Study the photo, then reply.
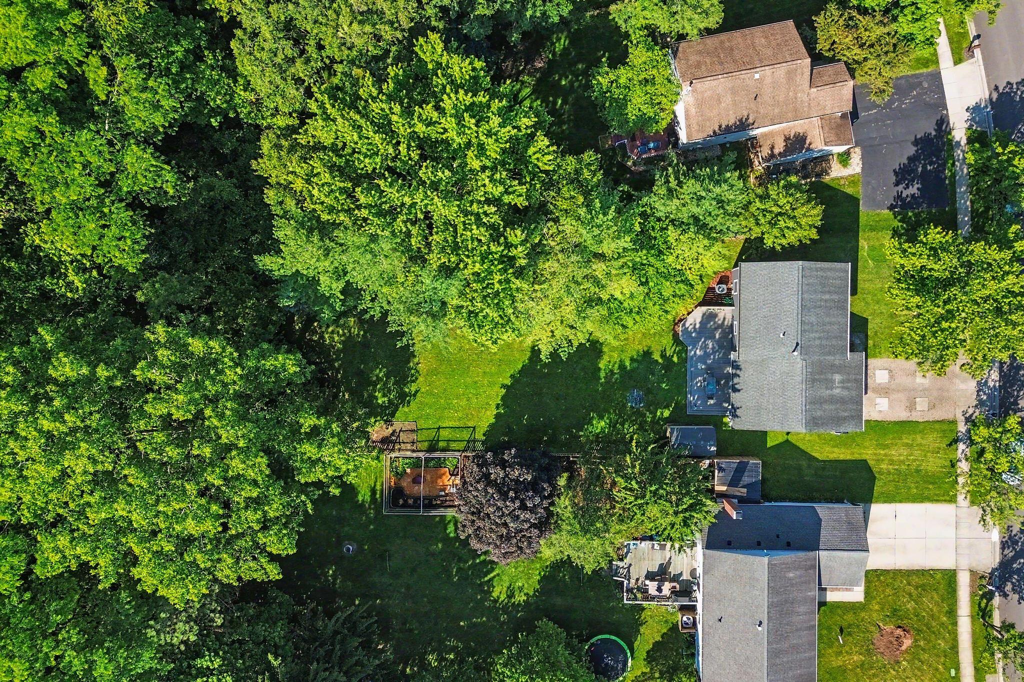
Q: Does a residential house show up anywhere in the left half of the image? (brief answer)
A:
No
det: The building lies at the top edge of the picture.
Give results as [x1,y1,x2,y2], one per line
[665,19,855,169]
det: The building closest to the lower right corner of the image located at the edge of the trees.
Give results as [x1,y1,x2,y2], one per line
[696,499,869,682]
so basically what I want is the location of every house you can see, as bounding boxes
[696,499,869,682]
[728,261,865,433]
[665,19,855,169]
